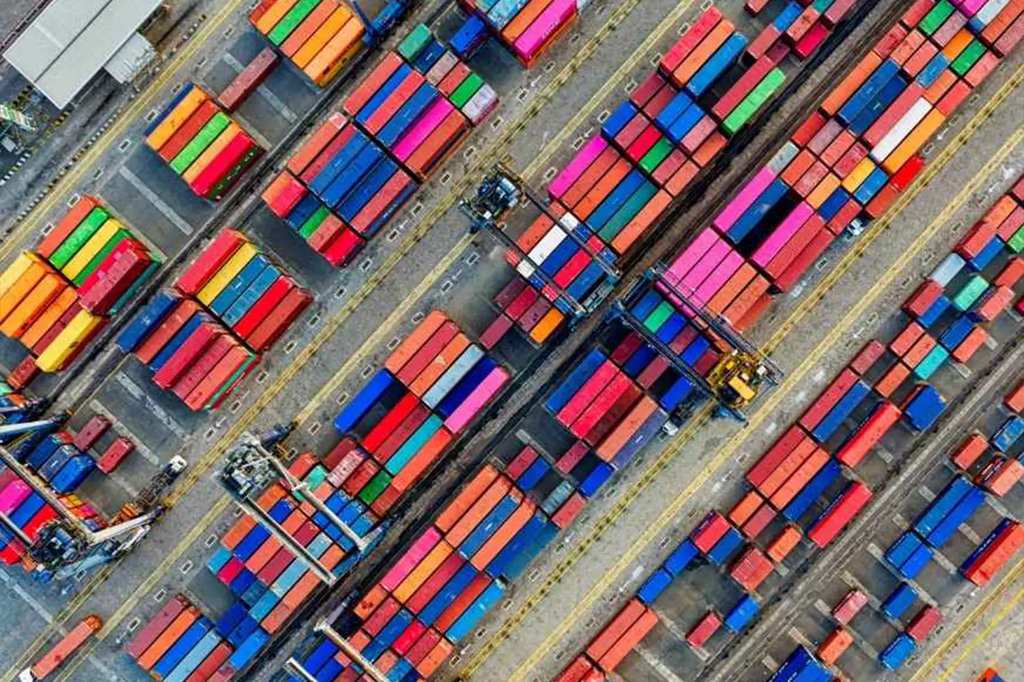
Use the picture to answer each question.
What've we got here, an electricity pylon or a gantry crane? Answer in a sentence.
The one in the frame is a gantry crane.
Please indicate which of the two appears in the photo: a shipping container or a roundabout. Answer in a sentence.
Visible in the photo is a shipping container.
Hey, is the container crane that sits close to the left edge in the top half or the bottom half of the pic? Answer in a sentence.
You can find the container crane that sits close to the left edge in the bottom half.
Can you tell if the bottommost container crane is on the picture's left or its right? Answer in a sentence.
The bottommost container crane sits on the left side.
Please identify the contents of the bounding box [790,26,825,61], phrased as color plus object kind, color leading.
red shipping container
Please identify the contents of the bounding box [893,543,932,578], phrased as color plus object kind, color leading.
blue shipping container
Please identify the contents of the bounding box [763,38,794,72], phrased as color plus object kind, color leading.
red shipping container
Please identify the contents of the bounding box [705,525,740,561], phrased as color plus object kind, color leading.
blue shipping container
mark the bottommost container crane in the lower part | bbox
[287,575,399,682]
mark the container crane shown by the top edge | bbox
[349,0,418,57]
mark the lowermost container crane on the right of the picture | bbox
[599,259,786,424]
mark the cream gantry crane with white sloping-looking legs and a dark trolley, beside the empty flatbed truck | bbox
[0,411,172,582]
